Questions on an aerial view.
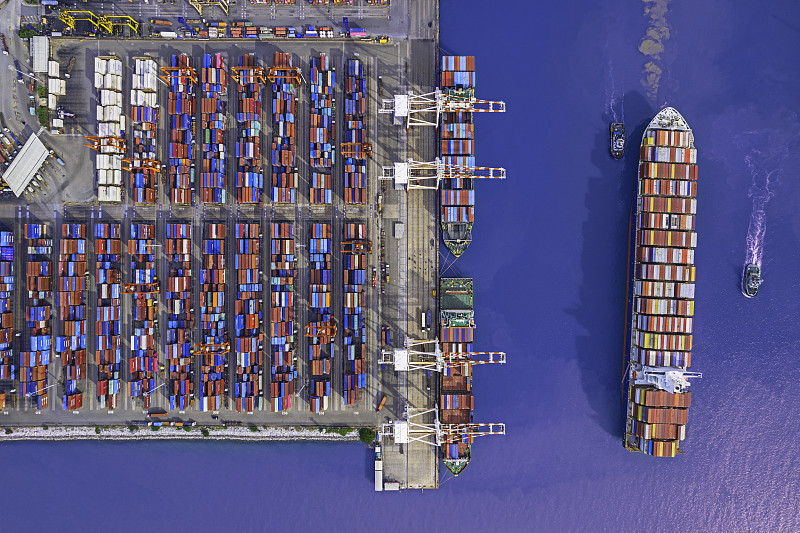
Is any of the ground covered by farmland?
No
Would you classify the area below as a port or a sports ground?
port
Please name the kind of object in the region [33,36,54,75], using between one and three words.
shed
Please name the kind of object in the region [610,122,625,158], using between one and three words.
boat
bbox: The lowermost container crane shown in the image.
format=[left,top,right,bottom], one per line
[379,399,505,443]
